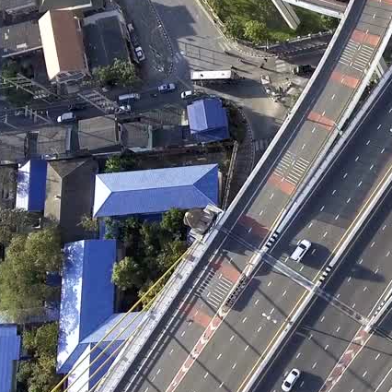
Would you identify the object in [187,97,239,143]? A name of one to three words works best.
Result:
house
